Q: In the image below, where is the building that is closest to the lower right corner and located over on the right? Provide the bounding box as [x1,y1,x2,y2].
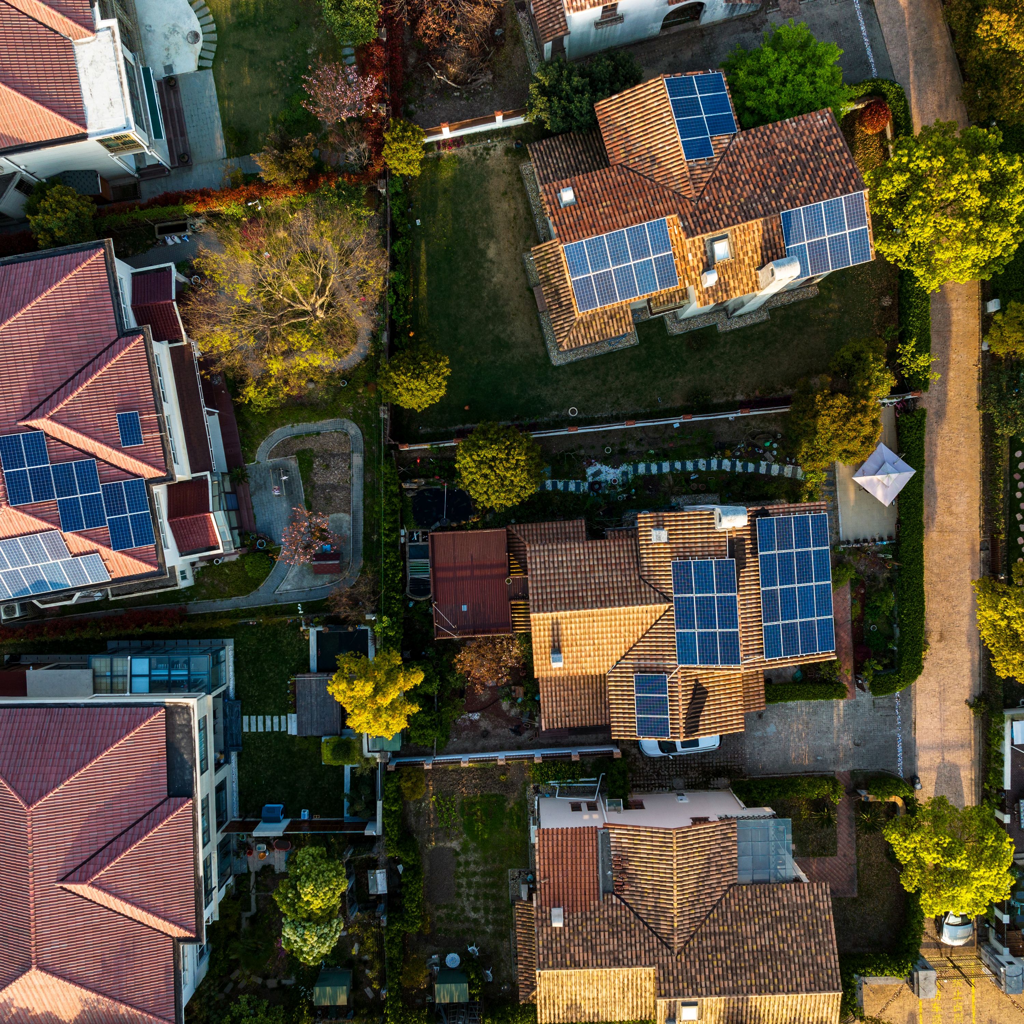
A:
[515,777,844,1024]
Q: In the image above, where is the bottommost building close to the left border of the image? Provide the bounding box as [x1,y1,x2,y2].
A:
[0,645,233,1024]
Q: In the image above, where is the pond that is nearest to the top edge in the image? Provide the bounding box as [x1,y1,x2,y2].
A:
[412,487,473,525]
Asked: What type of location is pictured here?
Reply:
residential area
